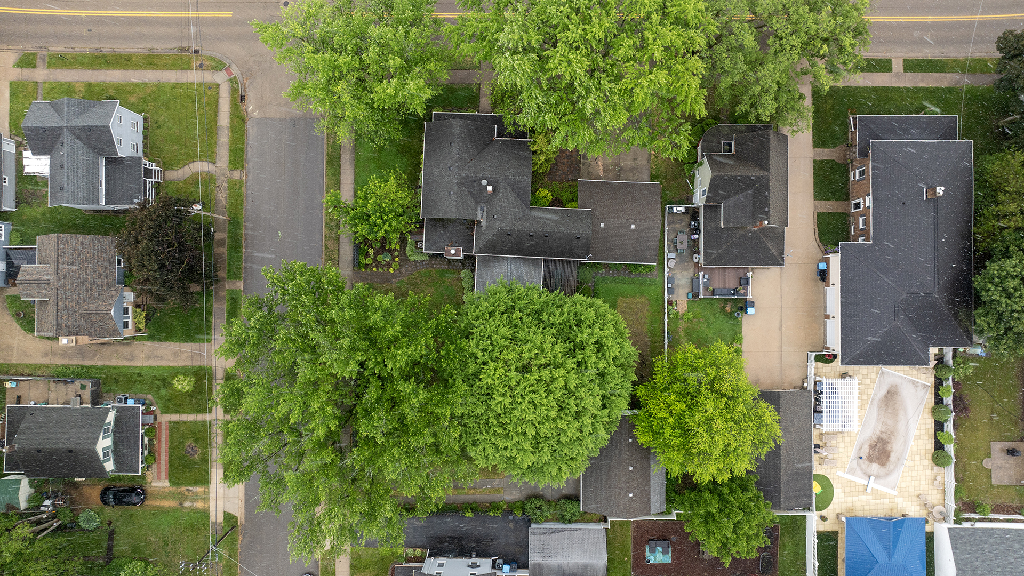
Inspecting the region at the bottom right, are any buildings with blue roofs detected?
Yes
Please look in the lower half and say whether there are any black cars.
Yes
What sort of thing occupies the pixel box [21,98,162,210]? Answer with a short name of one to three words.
house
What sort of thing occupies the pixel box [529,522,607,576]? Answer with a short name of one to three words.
building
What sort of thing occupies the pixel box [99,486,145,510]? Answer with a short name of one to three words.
car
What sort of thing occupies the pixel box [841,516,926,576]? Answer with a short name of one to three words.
building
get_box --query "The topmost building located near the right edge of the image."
[822,115,974,366]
